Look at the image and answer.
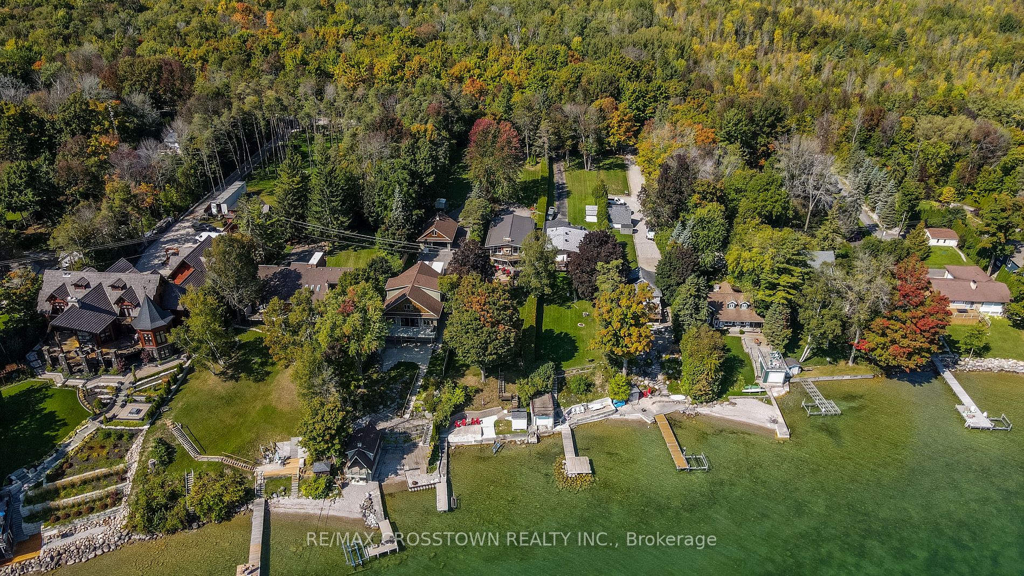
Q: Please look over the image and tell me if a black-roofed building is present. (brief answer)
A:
Yes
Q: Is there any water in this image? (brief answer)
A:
Yes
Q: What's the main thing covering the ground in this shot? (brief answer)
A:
trees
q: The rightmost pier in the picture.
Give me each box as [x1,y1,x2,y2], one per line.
[937,364,992,433]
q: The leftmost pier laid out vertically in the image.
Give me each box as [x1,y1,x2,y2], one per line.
[236,499,267,576]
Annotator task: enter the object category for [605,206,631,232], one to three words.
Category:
building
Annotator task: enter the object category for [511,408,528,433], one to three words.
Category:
shed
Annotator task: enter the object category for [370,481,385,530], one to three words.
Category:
pier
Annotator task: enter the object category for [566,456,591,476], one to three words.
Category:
pier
